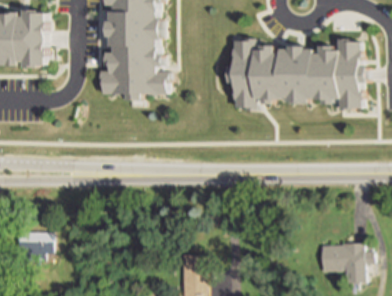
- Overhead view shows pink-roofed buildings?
No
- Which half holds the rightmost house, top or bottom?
bottom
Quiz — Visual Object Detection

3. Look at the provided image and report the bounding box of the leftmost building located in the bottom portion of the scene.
[18,232,56,264]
